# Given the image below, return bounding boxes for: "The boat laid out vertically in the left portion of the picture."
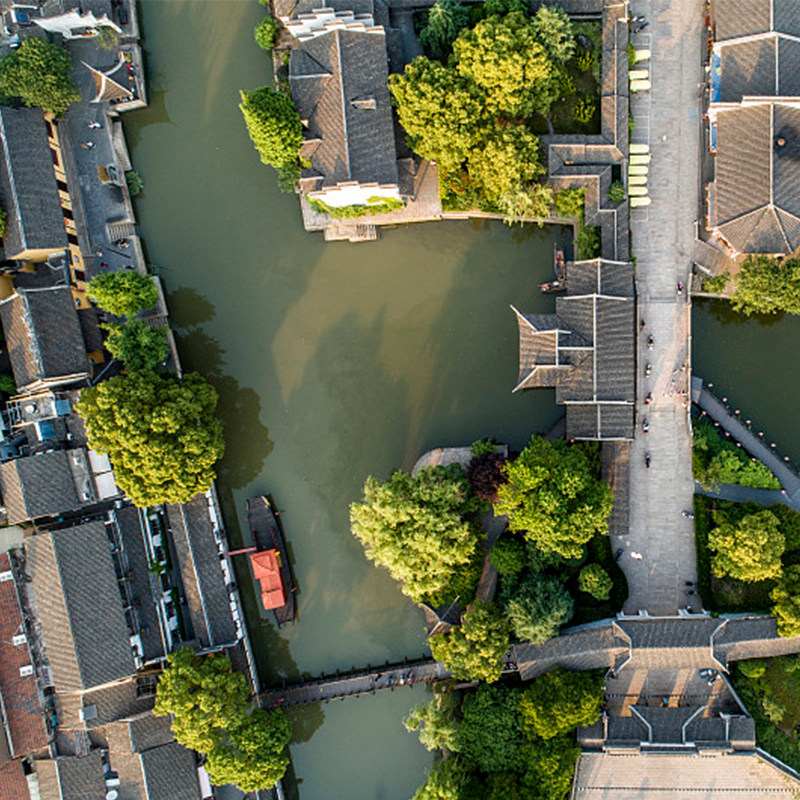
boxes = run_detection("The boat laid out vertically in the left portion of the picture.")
[247,495,297,628]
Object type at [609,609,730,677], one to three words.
building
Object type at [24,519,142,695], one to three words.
house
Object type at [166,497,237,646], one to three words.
house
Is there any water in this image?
Yes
